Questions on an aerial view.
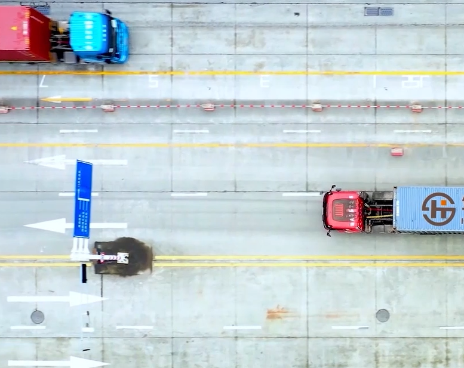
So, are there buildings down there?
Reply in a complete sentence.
No, I can see no building in this picture.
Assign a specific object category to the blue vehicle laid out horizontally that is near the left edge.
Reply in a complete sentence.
The blue vehicle laid out horizontally that is near the left edge in the image is a truck.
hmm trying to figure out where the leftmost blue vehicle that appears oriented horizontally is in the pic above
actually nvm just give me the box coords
[8,4,131,65]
